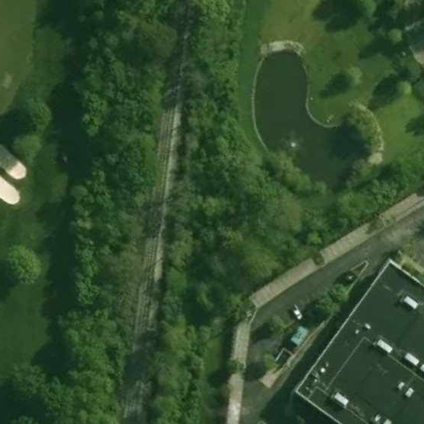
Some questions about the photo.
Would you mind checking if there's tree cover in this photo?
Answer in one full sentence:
Yes, the picture does contain tree cover.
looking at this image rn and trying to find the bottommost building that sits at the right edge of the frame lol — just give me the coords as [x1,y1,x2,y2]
[297,261,424,424]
